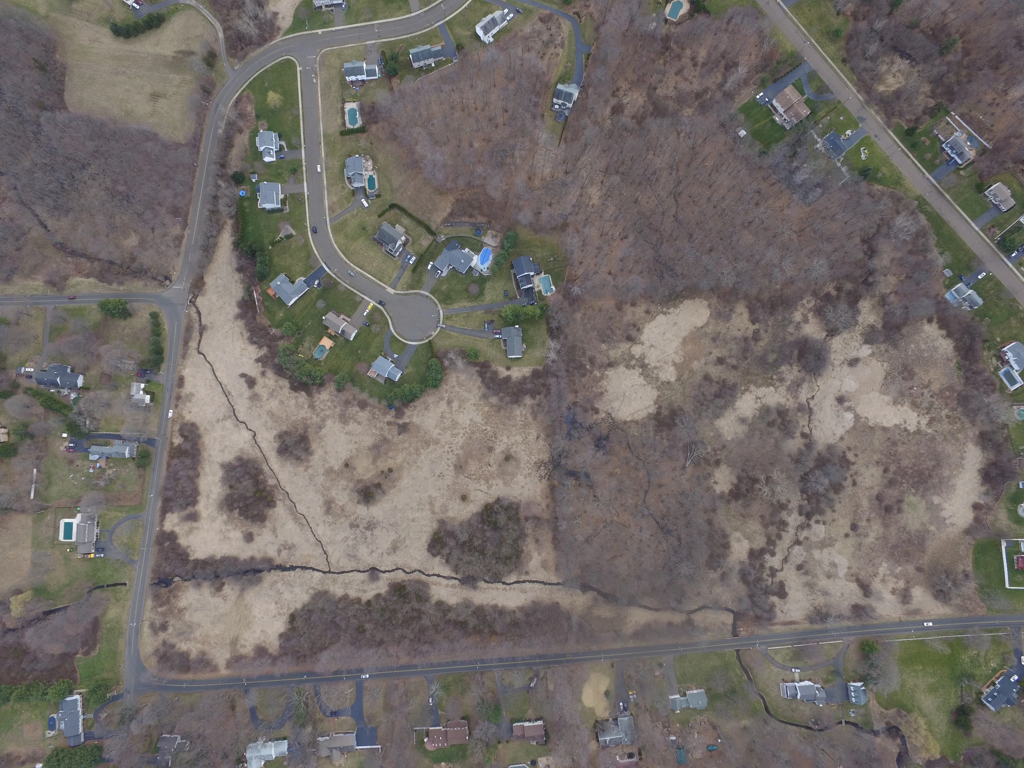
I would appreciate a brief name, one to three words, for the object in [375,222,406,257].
house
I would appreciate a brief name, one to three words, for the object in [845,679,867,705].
building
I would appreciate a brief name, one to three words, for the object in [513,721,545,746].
house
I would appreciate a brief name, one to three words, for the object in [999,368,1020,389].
swimming pool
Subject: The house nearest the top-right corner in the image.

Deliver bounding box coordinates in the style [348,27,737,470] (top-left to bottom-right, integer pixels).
[938,131,978,166]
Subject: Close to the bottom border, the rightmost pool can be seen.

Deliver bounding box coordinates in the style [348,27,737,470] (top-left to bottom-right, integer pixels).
[616,750,637,762]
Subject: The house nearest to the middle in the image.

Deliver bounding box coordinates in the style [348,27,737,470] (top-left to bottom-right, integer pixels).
[502,325,522,356]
